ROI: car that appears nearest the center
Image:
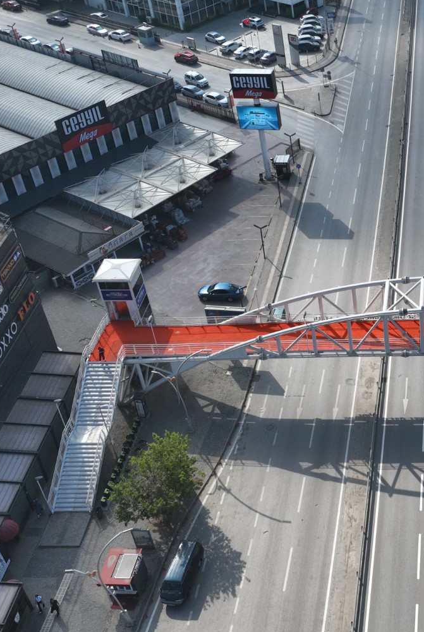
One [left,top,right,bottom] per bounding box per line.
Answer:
[197,282,248,303]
